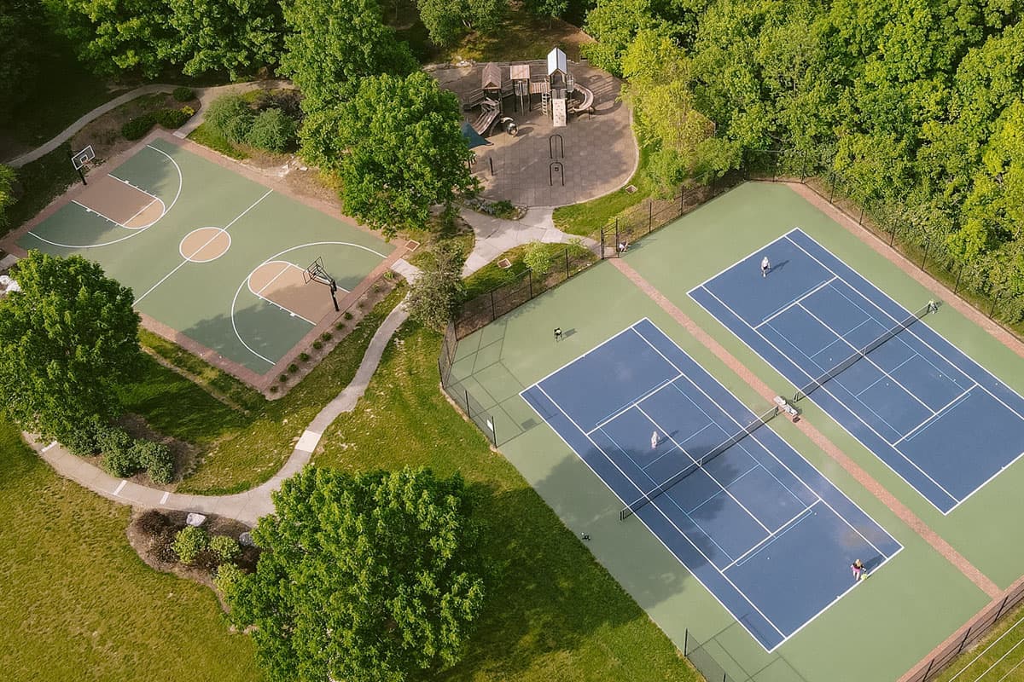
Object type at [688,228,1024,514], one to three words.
tennis court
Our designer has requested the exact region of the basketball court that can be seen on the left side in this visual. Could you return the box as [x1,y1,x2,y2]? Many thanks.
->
[0,124,410,392]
